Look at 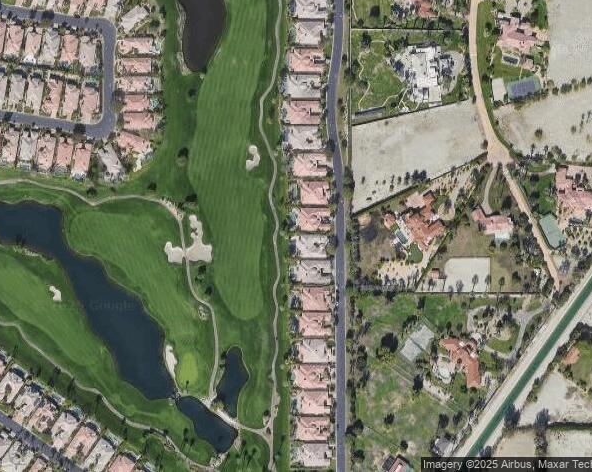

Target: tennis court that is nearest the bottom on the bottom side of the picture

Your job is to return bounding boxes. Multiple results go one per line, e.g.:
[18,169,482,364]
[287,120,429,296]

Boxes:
[401,325,436,362]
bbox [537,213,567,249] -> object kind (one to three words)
tennis court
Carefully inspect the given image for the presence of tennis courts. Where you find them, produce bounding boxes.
[537,213,567,249]
[401,325,436,362]
[506,75,542,101]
